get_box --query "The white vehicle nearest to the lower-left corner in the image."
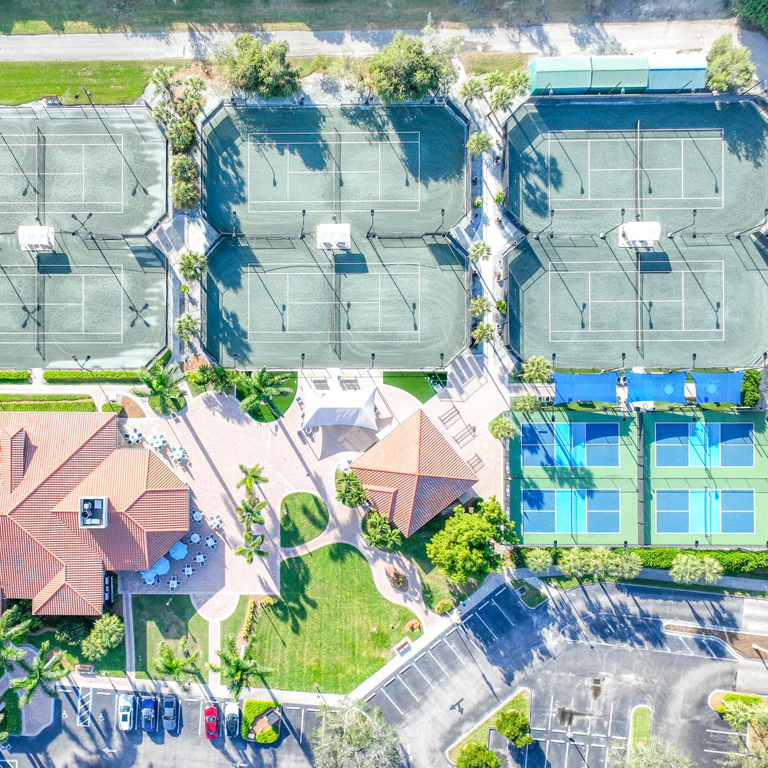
[118,694,133,730]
